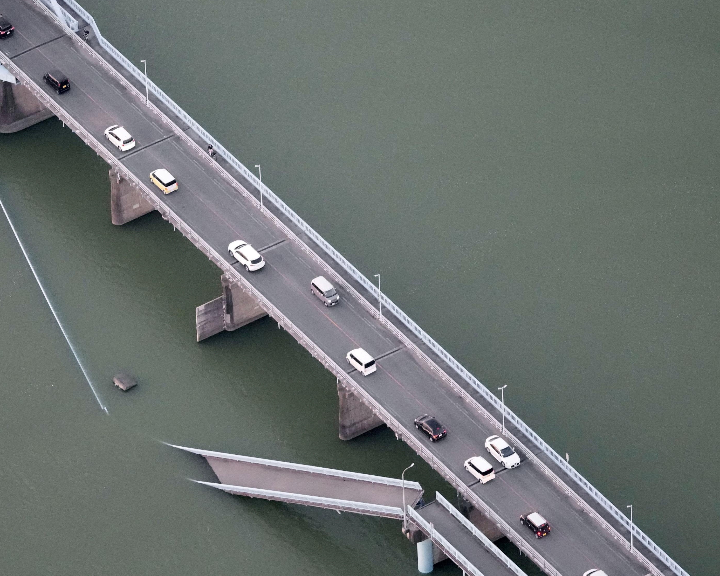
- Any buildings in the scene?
No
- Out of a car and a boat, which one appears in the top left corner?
car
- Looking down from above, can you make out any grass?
No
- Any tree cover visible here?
No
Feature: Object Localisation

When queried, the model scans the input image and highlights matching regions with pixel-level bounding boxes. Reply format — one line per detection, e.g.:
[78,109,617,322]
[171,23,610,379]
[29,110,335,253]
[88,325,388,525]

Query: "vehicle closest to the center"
[310,274,340,308]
